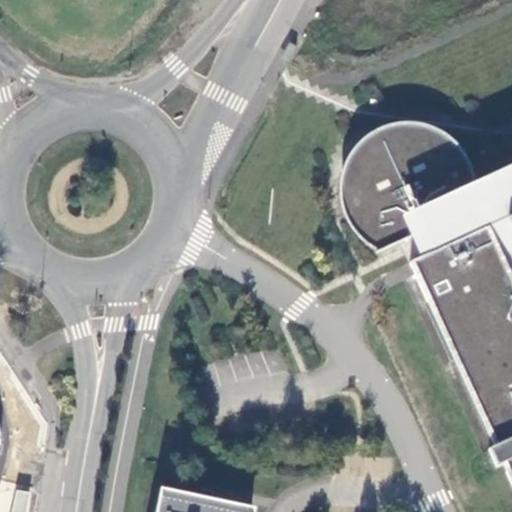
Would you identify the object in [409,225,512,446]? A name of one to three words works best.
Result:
building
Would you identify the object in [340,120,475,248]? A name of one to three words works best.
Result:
building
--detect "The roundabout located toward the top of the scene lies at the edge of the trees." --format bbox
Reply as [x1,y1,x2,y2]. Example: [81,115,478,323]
[0,86,202,307]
